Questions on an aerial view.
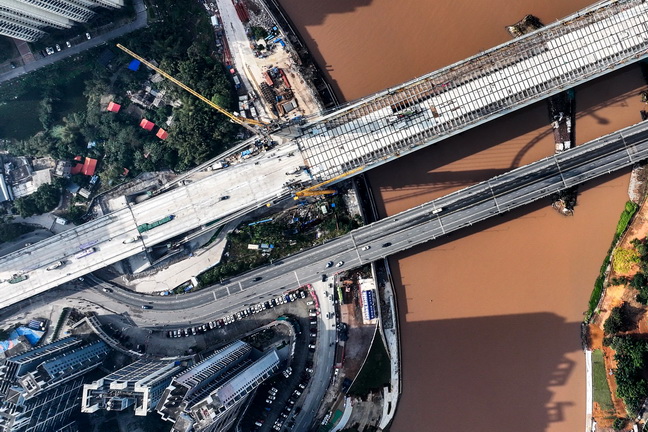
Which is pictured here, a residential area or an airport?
residential area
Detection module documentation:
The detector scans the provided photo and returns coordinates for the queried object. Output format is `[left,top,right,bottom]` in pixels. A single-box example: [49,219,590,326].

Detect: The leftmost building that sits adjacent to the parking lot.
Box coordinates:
[0,336,111,432]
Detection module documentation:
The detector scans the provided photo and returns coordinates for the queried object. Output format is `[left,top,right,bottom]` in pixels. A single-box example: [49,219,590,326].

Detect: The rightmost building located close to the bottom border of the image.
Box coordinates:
[149,334,287,432]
